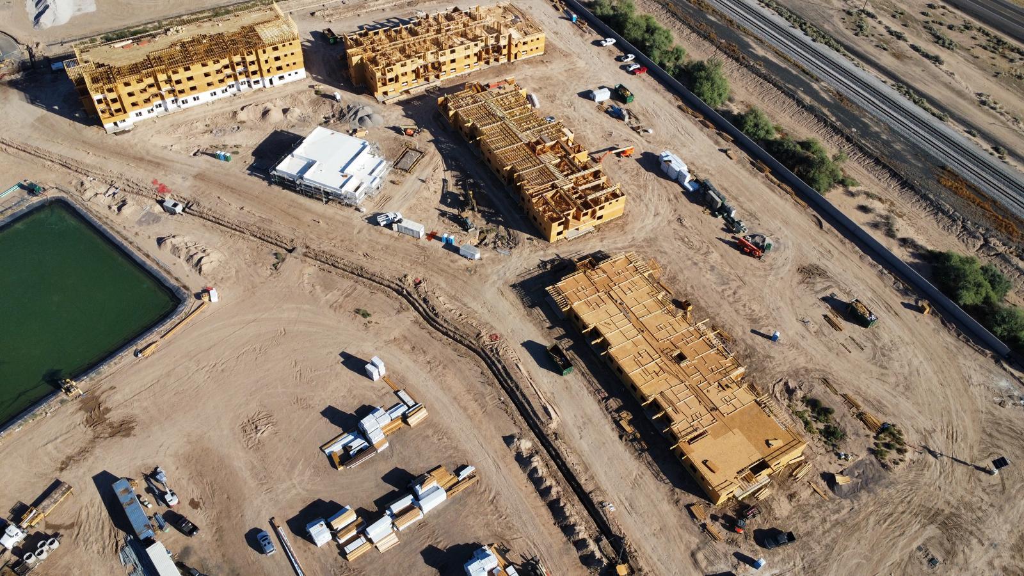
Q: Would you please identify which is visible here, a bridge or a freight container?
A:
freight container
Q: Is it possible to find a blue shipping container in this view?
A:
Yes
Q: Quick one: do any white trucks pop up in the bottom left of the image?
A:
Yes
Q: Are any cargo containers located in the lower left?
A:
Yes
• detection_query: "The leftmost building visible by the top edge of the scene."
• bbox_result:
[64,0,307,135]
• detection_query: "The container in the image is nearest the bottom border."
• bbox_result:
[146,542,178,576]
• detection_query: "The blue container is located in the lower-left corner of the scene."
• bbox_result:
[112,478,159,548]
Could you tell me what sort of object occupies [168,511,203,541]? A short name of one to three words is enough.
truck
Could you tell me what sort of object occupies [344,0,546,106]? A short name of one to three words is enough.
building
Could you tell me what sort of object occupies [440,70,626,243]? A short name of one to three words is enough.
building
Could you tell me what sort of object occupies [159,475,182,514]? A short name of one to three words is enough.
work vehicle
